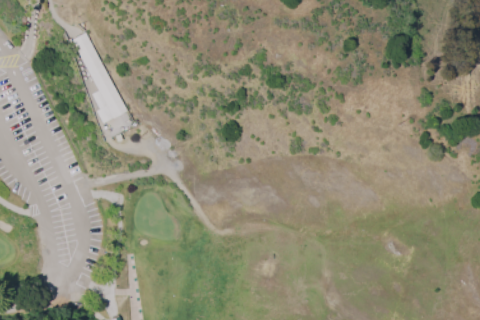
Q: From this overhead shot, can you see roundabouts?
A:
No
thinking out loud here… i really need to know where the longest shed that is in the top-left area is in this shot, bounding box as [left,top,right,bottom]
[74,34,128,123]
